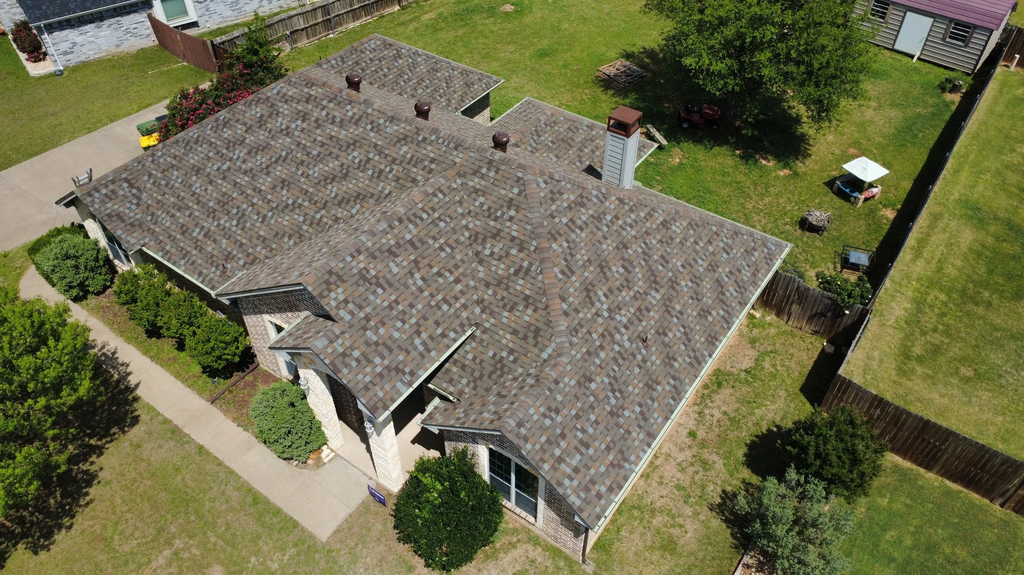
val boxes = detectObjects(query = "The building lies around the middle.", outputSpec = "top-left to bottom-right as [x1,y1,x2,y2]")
[53,33,795,575]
